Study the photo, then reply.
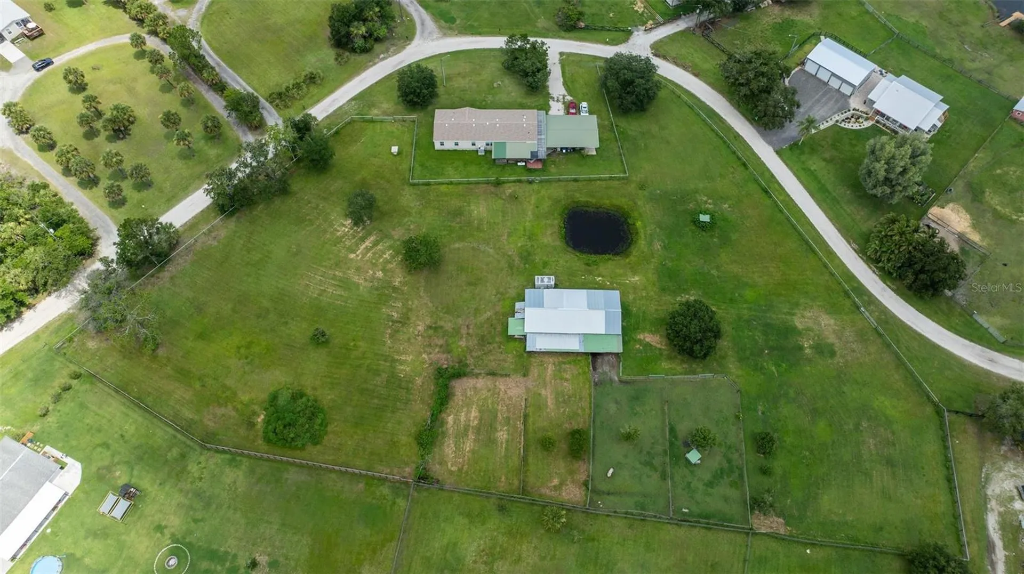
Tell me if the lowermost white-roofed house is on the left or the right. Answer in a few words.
left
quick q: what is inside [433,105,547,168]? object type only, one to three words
house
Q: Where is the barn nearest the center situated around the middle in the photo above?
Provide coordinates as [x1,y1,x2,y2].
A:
[509,289,622,357]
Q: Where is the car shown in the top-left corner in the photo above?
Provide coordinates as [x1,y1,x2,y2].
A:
[31,58,55,71]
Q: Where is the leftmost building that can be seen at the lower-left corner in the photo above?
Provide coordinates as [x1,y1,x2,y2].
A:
[0,435,77,567]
